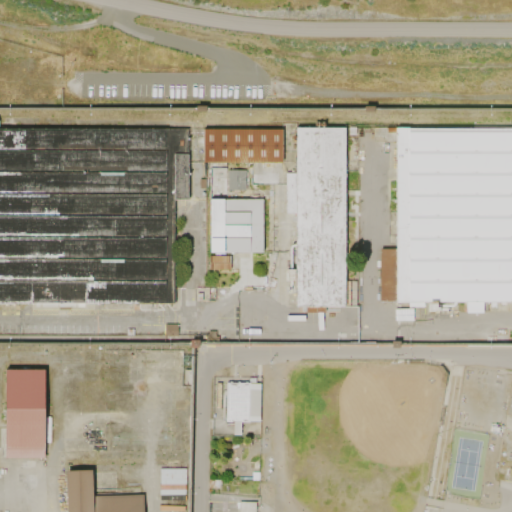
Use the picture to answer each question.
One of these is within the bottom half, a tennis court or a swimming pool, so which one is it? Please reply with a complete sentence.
It is a tennis court that can be seen within the bottom half.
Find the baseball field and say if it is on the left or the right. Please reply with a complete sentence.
The baseball field appears in the right half of the scene.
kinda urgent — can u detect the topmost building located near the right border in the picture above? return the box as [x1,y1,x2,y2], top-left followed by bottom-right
[396,127,512,303]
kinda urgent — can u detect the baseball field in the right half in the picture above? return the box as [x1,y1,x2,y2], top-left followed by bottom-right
[344,364,437,461]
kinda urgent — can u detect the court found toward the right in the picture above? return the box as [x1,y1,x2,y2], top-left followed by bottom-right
[448,428,489,498]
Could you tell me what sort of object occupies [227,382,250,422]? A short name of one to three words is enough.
building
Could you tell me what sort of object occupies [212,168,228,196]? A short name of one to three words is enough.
house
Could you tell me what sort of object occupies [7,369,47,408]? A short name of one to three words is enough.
shed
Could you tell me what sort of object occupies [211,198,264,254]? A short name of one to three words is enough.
building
